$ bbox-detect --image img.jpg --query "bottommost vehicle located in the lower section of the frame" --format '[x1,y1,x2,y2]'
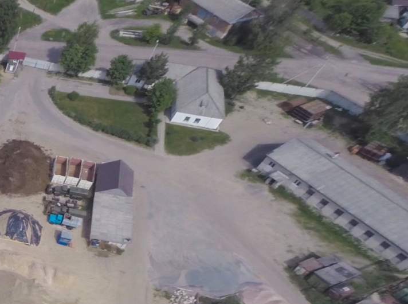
[56,231,73,254]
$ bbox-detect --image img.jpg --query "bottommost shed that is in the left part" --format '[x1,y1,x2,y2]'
[86,195,134,257]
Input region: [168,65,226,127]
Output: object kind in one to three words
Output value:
house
